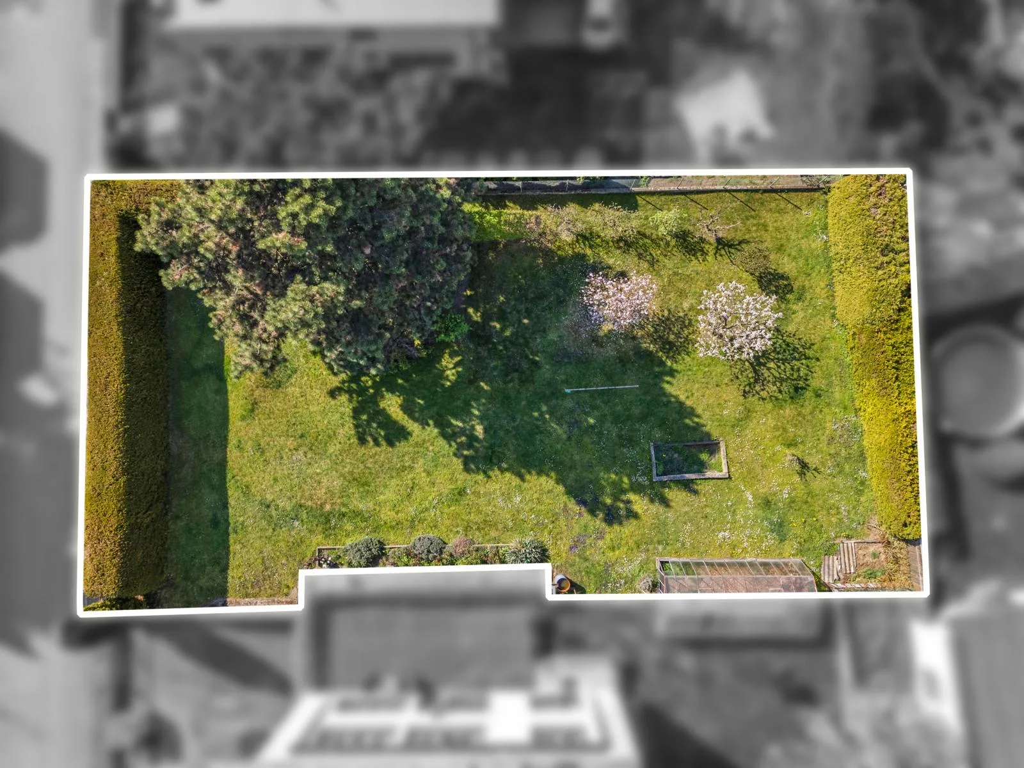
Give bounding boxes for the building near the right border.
[916,600,1024,768]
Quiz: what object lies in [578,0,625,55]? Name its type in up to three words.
car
